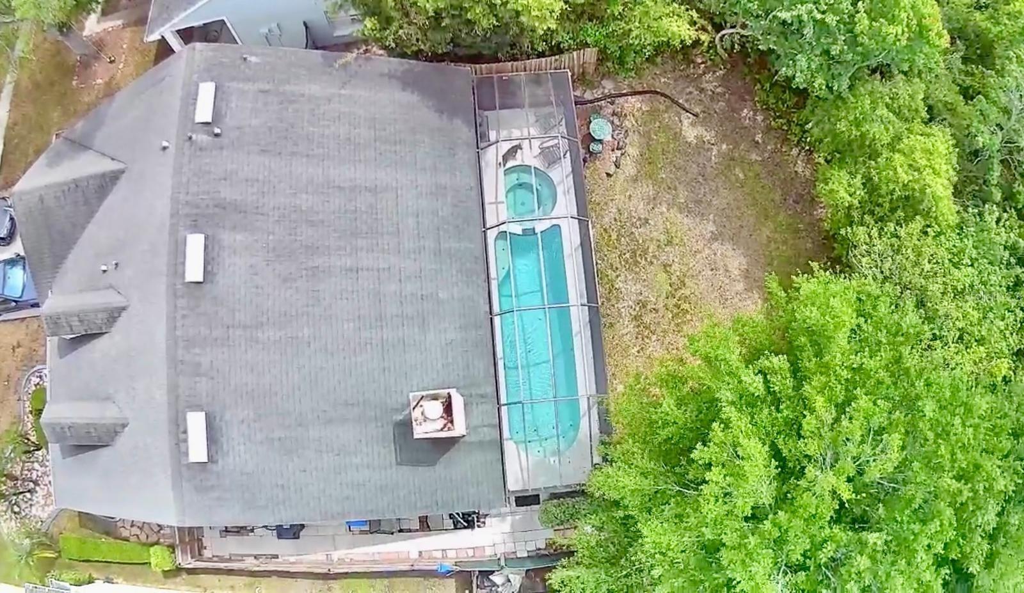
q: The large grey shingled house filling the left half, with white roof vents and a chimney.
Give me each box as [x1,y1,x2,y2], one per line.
[11,43,512,527]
